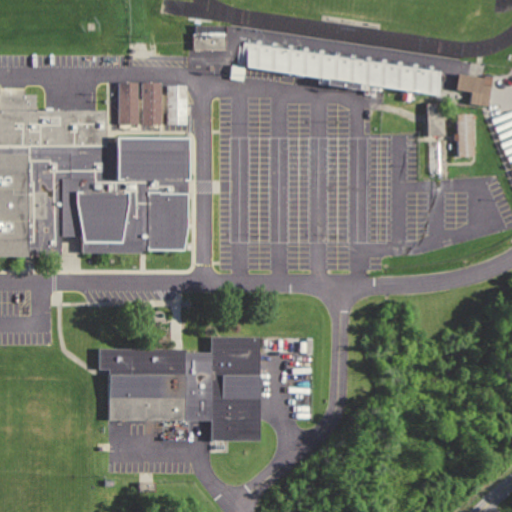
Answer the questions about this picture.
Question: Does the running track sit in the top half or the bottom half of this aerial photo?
top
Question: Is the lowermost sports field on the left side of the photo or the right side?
left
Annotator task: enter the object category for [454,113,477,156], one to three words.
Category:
shed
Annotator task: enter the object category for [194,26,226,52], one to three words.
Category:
building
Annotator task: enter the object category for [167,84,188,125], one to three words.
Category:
building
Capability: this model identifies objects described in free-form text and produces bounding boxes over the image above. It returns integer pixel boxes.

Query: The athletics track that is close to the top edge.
[161,0,512,58]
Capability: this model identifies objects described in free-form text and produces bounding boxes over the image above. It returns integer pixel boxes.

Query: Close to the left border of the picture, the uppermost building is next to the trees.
[0,87,190,258]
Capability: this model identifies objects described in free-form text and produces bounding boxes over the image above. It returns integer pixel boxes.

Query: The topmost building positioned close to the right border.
[458,74,493,106]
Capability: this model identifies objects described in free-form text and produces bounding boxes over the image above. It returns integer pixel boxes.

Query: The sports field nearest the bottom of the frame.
[0,345,142,512]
